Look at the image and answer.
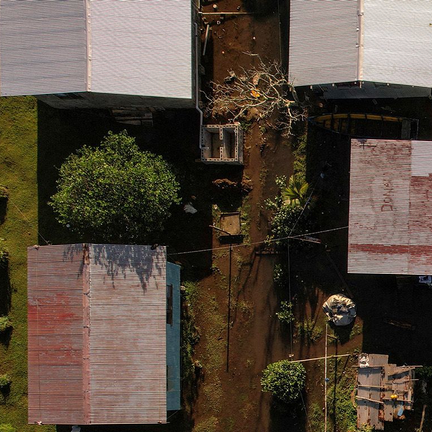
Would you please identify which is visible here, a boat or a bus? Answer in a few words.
boat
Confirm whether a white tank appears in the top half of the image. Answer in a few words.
No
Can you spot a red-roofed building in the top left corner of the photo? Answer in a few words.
No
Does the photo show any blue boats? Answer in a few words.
No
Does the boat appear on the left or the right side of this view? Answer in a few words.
right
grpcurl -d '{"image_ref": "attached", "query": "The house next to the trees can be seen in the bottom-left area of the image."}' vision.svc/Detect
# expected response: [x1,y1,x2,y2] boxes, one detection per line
[27,243,179,427]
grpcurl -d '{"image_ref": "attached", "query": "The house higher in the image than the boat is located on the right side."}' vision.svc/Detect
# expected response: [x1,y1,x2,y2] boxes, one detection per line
[289,0,432,101]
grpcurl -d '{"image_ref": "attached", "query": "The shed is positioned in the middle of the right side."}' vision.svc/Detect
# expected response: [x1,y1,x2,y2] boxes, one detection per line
[350,139,432,278]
